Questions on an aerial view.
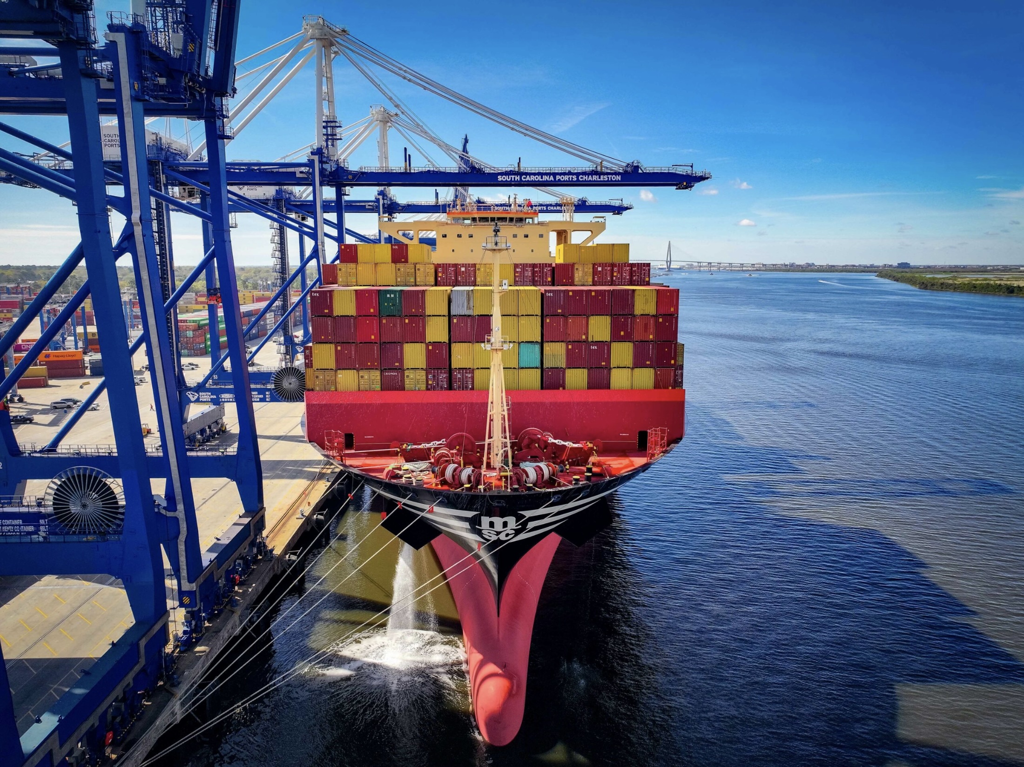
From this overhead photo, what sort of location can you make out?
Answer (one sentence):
It's a port.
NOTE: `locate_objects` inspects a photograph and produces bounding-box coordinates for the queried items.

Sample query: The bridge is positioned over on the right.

[626,241,1010,270]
